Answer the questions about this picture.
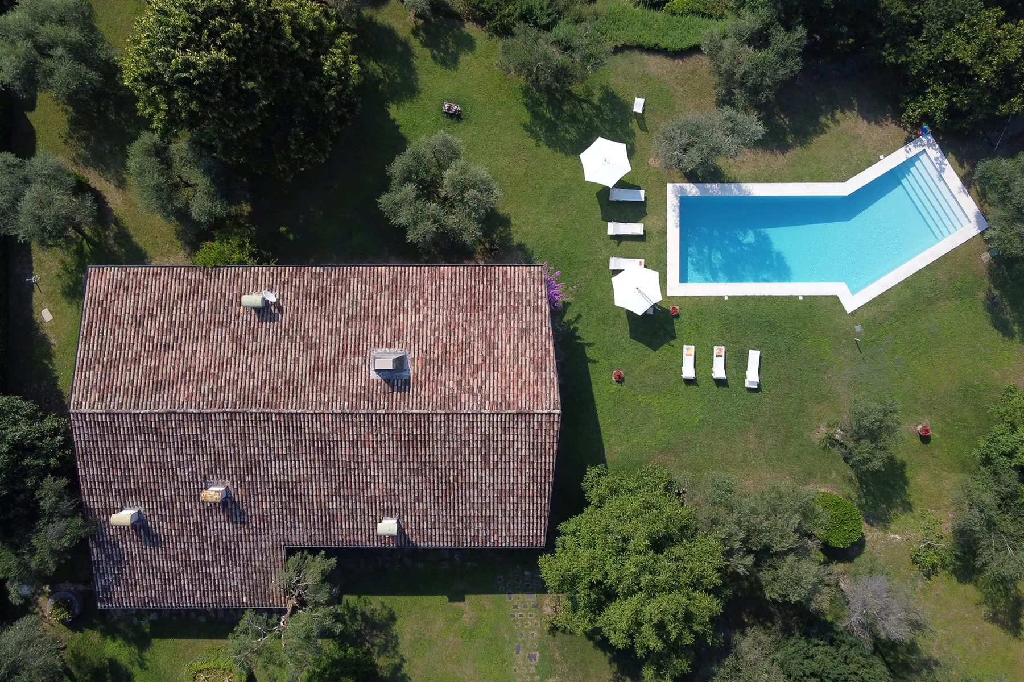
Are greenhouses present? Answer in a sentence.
No, the photo shows no greenhouse.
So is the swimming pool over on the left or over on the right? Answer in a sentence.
It is on the right.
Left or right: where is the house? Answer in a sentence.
It is on the left.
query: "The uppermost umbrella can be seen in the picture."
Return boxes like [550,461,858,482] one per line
[579,136,632,187]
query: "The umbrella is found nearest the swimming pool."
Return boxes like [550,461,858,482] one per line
[611,264,662,318]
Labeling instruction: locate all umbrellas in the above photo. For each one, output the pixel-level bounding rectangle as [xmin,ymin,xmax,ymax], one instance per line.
[579,136,632,187]
[611,264,662,318]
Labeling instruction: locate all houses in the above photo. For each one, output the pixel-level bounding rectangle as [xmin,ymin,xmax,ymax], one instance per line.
[68,263,561,611]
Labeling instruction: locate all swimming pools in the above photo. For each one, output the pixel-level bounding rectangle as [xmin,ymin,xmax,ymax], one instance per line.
[667,134,989,314]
